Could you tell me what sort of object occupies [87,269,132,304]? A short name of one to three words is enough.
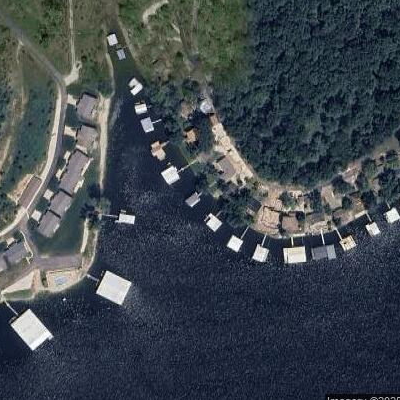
pier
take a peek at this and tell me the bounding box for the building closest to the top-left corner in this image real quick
[78,96,99,121]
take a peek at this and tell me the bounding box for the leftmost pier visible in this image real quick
[5,299,54,350]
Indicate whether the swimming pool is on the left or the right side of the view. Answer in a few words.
left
